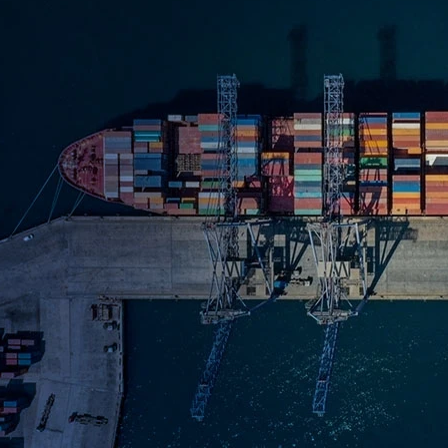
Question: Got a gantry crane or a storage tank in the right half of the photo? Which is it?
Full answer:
You can see a gantry crane in the right half of the photo.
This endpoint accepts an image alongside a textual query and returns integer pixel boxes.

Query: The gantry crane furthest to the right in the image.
[305,74,374,423]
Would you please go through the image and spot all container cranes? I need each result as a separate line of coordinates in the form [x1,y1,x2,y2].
[305,74,374,423]
[194,74,283,423]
